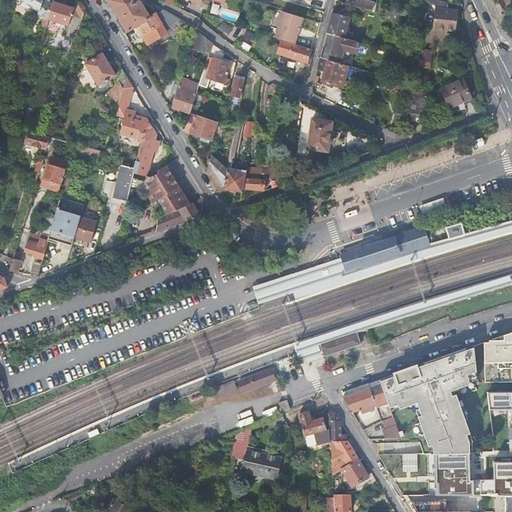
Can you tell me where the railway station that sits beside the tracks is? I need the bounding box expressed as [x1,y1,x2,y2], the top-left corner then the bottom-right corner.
[9,221,512,475]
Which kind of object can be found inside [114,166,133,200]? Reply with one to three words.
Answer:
house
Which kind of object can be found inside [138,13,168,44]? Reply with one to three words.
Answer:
house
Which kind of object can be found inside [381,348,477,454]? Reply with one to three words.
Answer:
building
